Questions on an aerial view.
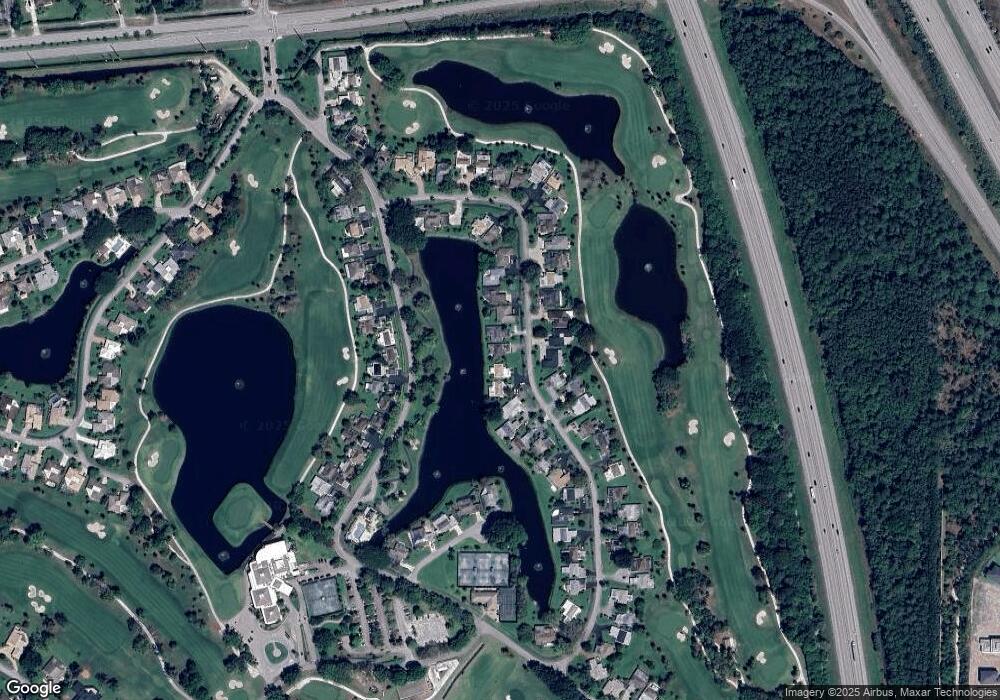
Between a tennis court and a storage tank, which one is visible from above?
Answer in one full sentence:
I can see a tennis court in this picture.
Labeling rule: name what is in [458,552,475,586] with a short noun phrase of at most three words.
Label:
tennis court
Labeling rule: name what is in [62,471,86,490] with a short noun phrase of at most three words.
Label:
house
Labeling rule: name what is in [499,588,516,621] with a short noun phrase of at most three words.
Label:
tennis court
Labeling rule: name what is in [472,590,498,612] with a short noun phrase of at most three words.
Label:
building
